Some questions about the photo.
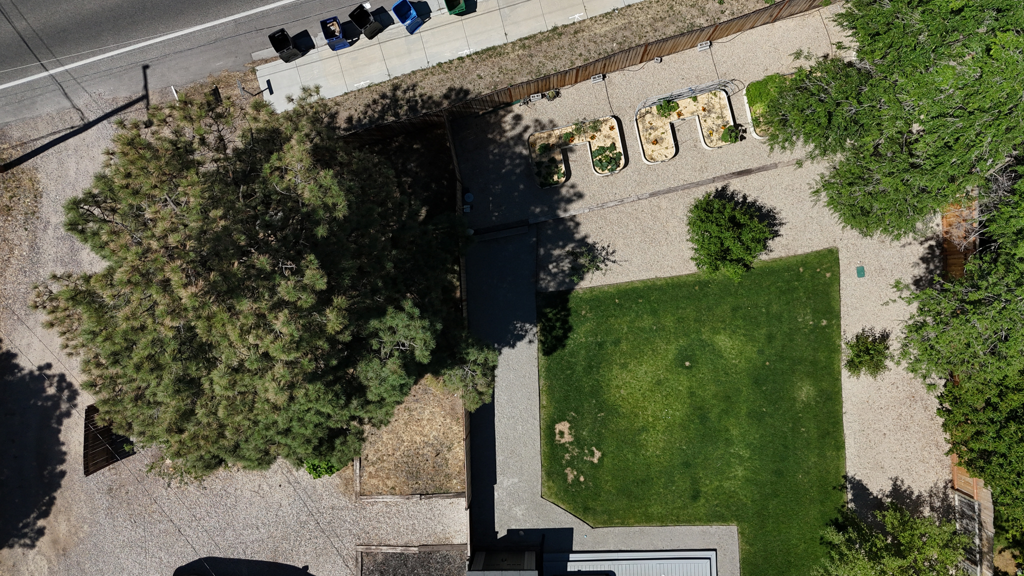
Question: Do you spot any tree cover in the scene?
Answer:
Yes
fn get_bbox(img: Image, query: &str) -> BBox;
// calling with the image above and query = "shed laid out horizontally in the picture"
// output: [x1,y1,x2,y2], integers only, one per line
[466,545,537,576]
